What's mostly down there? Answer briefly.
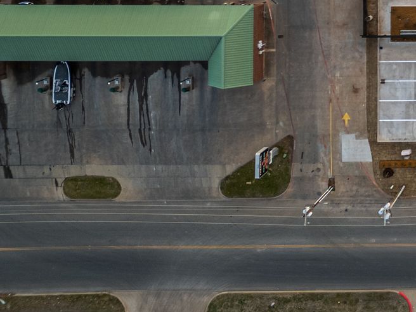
paved ground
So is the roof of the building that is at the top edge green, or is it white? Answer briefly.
green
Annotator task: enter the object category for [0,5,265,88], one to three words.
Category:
building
